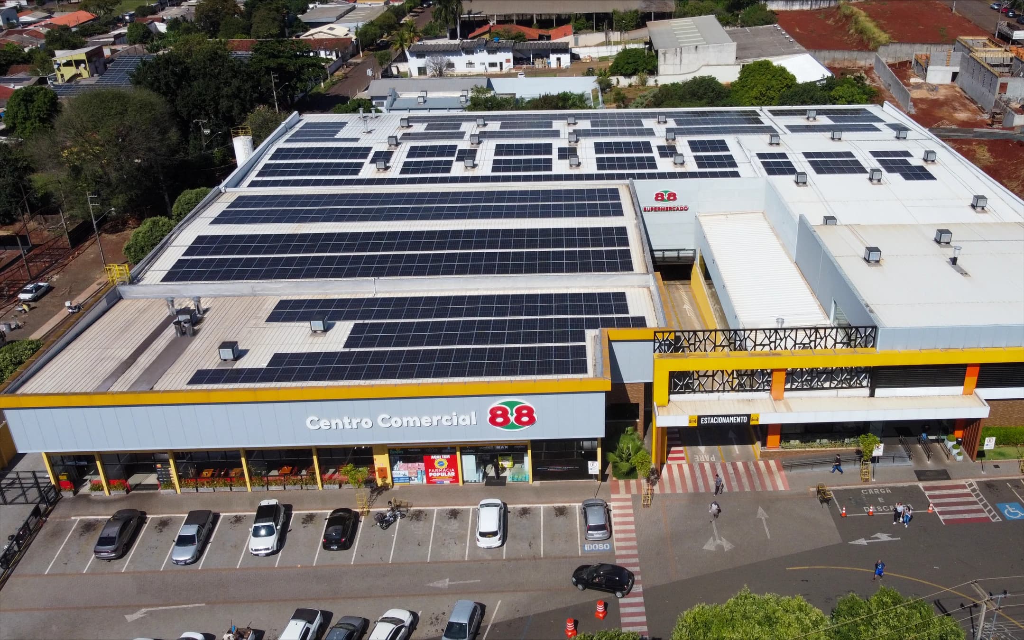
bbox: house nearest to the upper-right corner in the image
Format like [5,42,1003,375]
[911,36,1024,116]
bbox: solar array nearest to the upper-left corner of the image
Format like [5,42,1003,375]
[54,56,255,99]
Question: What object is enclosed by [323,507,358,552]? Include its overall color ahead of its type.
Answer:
black car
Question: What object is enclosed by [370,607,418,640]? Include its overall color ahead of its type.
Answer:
white car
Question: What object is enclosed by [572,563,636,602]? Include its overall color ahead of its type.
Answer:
black car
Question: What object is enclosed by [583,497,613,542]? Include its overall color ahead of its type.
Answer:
gray car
